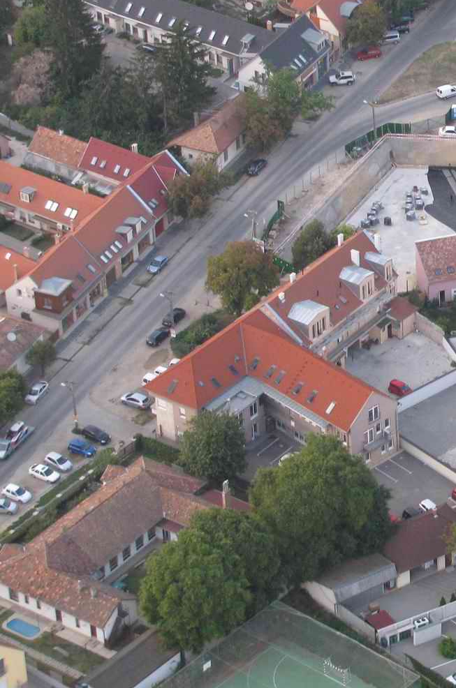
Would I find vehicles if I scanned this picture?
Yes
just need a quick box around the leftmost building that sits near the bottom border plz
[0,641,29,688]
